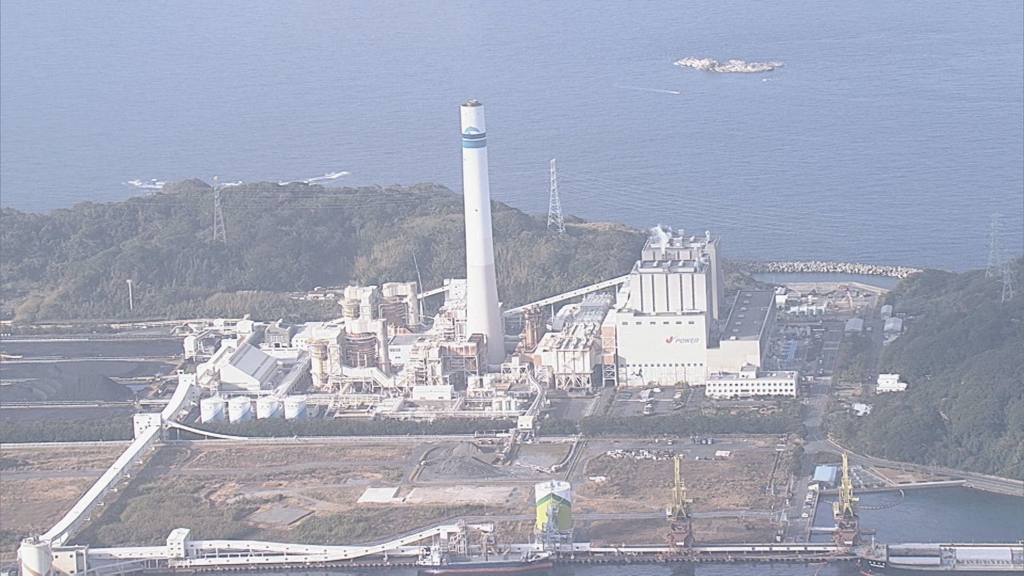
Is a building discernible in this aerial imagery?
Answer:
Yes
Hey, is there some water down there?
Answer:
Yes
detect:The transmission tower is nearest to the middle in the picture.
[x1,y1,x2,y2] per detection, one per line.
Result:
[546,158,564,236]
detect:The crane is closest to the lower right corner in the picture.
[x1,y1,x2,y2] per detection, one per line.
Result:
[827,451,867,555]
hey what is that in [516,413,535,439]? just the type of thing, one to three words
house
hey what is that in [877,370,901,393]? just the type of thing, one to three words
house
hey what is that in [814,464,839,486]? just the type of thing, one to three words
shed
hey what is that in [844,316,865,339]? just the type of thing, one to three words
shed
